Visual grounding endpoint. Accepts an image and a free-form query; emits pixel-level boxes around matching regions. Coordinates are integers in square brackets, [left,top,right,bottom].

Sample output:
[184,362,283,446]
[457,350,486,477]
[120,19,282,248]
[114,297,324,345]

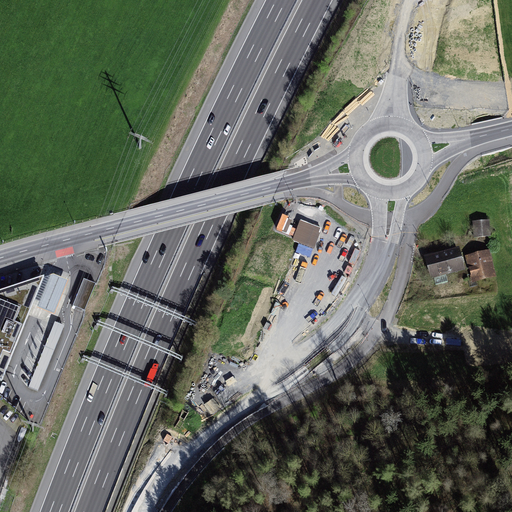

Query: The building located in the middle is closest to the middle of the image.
[293,220,320,250]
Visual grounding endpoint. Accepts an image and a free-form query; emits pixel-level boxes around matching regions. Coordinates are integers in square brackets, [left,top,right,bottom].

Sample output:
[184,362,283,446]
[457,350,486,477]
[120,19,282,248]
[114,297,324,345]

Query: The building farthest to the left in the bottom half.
[0,275,44,384]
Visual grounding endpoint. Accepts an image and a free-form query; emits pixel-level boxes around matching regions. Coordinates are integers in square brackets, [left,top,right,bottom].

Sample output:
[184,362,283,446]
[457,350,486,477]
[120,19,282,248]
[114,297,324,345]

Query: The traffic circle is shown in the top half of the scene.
[348,116,432,200]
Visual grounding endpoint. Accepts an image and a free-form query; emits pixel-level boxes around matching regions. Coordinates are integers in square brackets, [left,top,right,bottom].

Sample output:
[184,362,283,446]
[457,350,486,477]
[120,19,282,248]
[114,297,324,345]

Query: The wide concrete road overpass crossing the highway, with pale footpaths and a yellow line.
[100,168,292,248]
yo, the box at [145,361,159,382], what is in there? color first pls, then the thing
red vehicle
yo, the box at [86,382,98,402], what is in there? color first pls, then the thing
white vehicle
